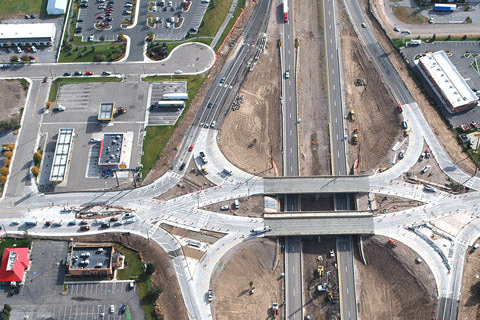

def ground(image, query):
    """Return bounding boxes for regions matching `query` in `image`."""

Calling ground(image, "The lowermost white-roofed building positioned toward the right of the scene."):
[414,49,479,115]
